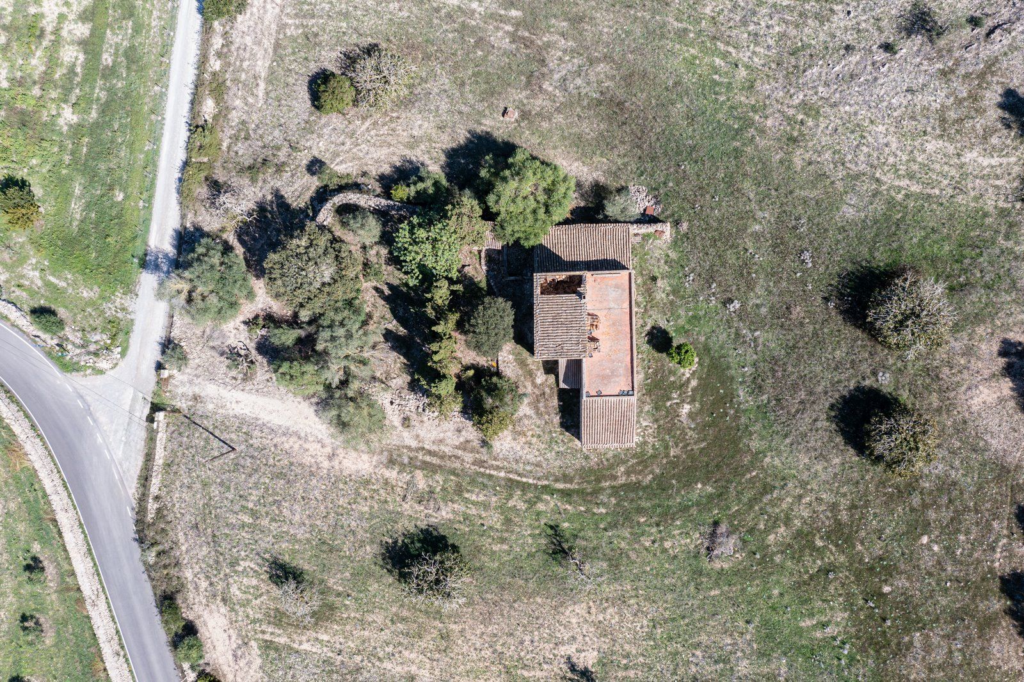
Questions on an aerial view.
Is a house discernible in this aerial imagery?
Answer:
Yes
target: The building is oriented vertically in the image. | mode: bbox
[532,222,636,448]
